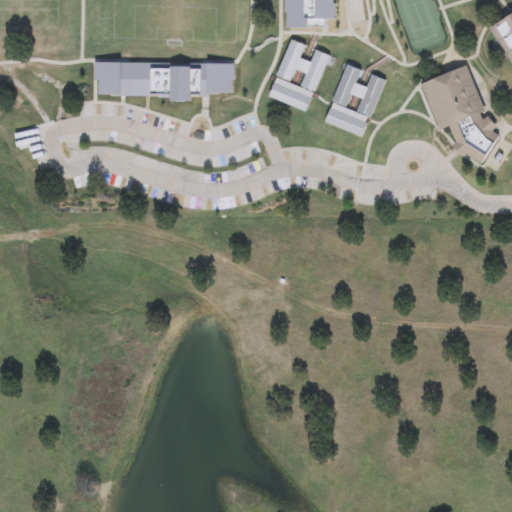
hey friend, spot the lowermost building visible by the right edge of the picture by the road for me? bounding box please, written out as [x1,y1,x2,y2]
[422,62,502,162]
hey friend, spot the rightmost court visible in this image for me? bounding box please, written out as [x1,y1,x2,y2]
[394,0,445,53]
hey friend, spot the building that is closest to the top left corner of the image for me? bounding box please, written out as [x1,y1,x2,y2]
[94,61,235,101]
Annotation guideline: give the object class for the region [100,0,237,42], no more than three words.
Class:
soccer field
